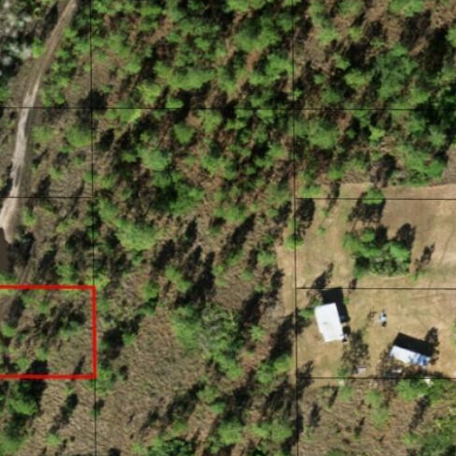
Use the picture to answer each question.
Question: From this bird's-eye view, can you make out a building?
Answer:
Yes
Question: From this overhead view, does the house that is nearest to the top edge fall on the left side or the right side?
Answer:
right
